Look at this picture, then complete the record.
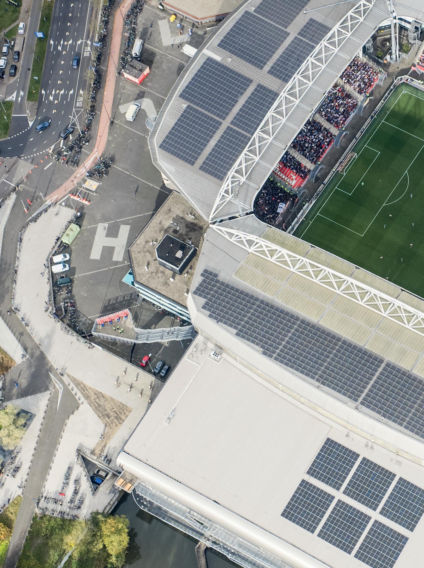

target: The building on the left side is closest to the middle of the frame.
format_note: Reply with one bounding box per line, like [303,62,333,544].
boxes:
[121,191,210,324]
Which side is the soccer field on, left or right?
right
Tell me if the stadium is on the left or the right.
right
